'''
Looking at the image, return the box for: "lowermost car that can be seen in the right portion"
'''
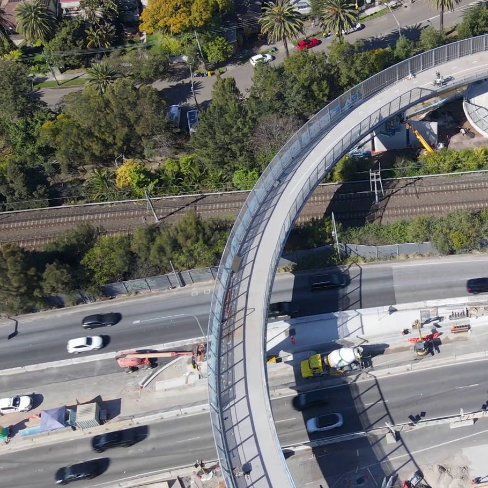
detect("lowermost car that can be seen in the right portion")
[305,413,345,436]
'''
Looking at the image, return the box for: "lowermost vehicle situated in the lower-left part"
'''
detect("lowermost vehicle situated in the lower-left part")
[55,459,102,485]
